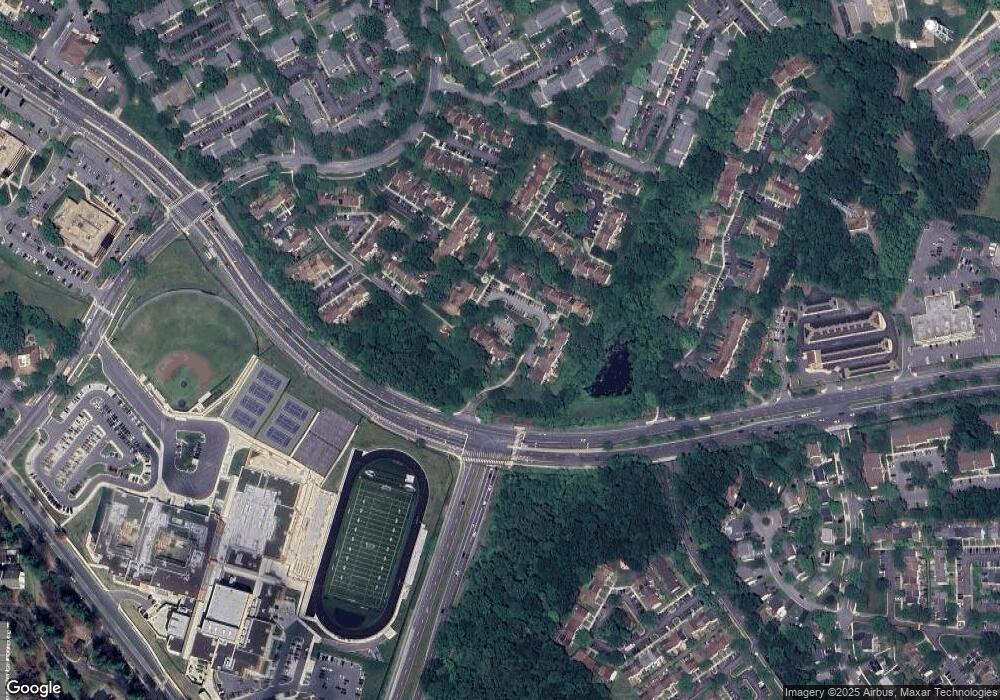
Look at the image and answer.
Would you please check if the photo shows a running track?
Yes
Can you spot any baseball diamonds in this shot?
Yes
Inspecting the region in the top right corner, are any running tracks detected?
No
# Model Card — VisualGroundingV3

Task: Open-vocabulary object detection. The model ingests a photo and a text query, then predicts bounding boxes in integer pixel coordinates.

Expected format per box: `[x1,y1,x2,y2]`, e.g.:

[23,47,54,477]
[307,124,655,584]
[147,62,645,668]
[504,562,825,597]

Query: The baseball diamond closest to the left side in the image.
[113,289,258,411]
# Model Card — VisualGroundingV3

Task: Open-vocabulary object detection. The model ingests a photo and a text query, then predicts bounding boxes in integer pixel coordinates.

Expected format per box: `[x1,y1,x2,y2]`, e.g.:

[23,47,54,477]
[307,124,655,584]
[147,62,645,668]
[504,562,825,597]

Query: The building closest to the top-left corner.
[60,29,96,68]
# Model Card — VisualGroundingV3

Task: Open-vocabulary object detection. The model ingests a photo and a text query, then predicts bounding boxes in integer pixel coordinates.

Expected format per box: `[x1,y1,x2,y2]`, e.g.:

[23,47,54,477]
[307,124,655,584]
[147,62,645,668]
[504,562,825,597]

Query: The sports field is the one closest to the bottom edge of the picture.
[322,458,420,629]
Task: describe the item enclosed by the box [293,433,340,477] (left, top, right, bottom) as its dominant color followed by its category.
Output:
gray sports court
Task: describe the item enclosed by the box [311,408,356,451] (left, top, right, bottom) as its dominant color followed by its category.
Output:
gray sports court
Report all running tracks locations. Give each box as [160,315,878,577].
[306,448,429,638]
